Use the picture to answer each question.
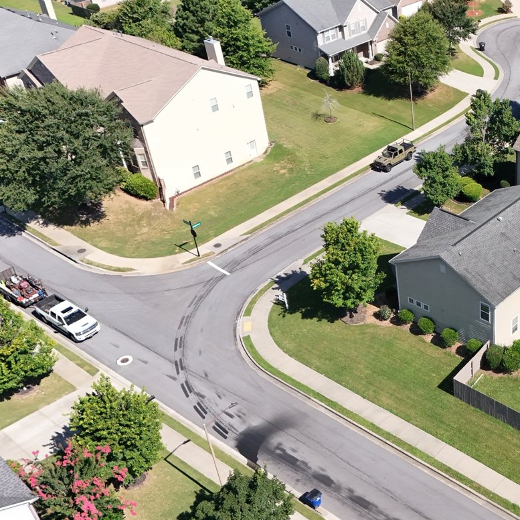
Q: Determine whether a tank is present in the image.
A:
No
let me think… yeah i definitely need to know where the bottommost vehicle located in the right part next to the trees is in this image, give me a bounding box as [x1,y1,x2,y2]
[371,140,415,172]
